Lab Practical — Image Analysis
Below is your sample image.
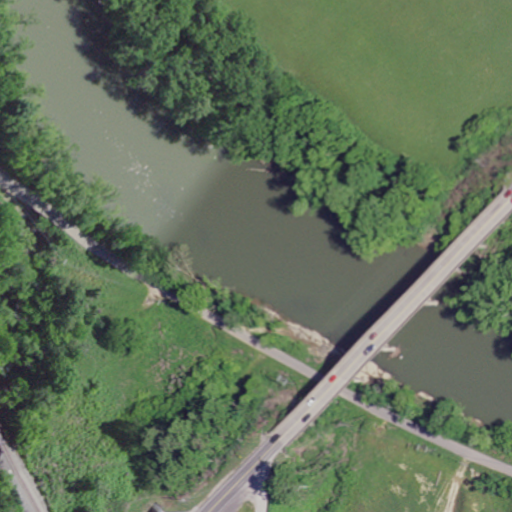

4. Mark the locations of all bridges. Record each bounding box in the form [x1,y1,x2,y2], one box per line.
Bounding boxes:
[264,188,512,456]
